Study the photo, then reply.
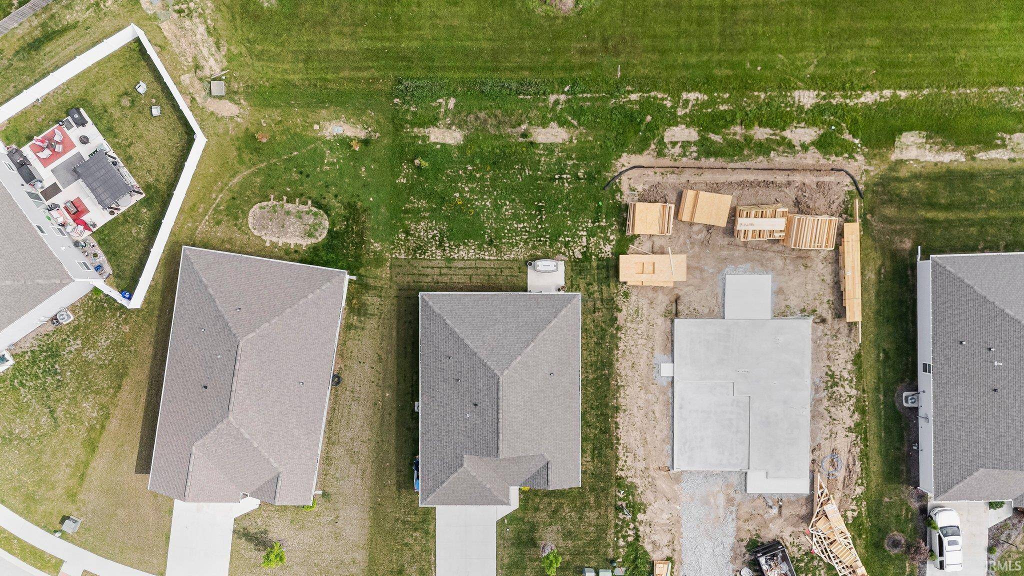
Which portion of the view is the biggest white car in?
bottom right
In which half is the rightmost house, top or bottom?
bottom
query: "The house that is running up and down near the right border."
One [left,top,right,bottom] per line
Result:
[917,247,1024,508]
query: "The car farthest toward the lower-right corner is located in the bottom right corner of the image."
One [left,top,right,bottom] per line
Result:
[929,506,963,573]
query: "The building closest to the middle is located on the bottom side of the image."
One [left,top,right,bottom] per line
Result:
[418,292,582,507]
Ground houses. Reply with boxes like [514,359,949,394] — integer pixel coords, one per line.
[418,292,582,507]
[148,246,357,505]
[0,152,102,356]
[917,247,1024,508]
